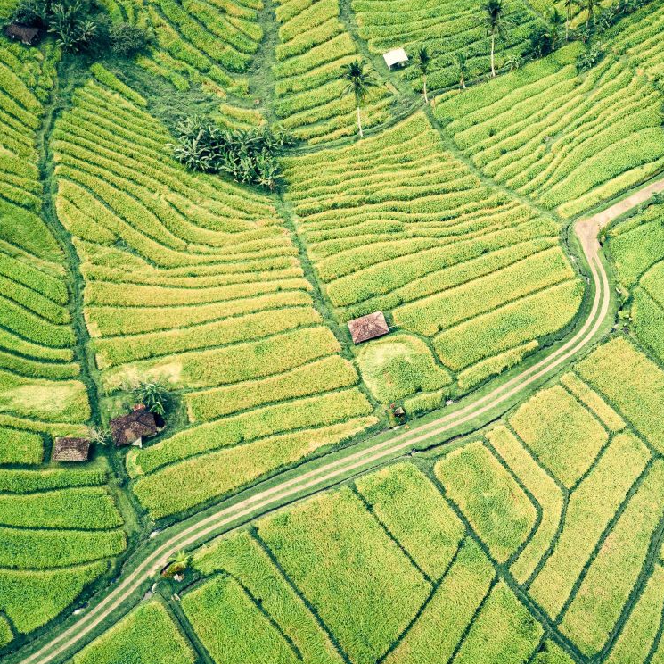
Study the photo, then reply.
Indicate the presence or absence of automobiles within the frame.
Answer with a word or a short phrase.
No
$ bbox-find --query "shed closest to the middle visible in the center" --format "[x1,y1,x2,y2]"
[347,312,389,346]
